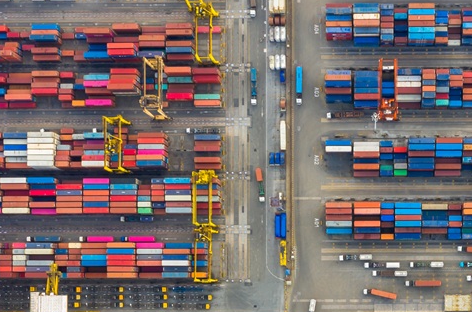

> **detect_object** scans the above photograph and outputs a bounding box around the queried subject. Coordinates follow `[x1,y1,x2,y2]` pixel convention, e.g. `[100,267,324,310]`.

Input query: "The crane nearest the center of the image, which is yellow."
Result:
[190,168,221,227]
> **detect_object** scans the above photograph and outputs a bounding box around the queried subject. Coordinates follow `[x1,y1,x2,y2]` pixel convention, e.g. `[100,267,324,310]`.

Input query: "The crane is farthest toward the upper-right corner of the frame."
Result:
[374,56,402,120]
